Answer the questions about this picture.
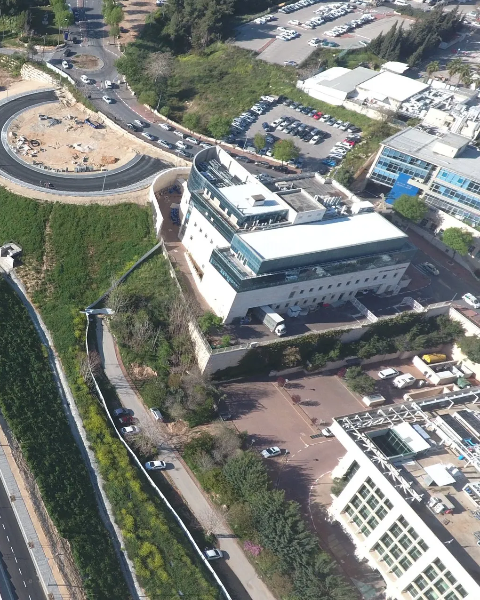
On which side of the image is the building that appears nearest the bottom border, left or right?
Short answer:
right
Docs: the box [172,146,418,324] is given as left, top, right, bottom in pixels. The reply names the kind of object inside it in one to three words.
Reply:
building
